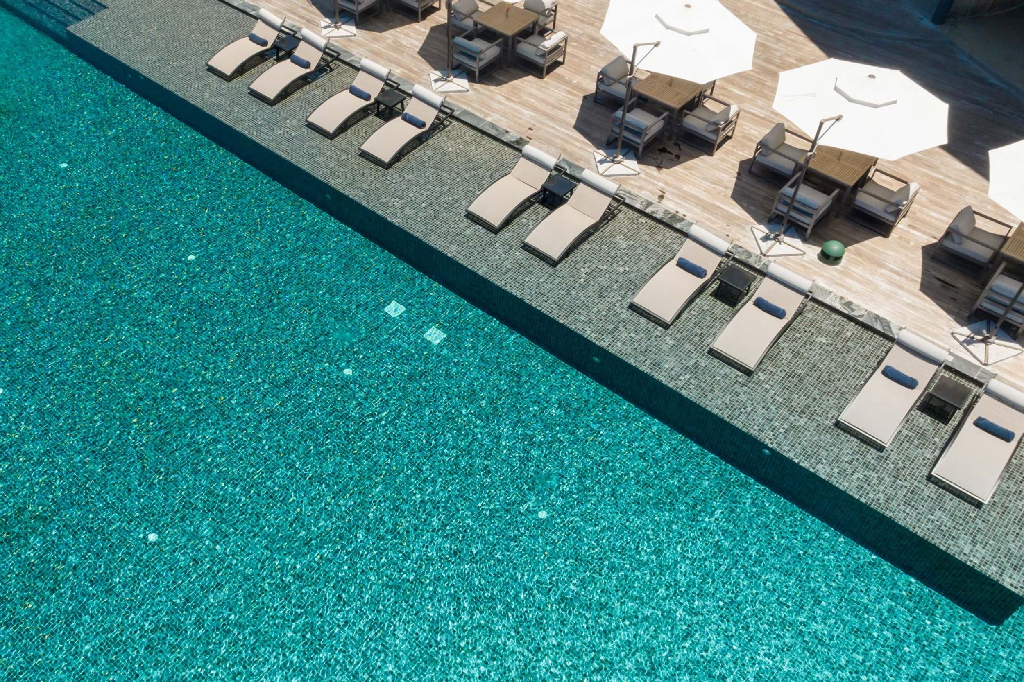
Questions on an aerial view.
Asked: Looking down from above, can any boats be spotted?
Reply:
No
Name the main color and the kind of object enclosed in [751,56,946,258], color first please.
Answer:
white umbrella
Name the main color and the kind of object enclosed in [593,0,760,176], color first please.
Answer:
white umbrella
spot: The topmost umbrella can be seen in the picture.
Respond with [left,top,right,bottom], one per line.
[322,0,356,37]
